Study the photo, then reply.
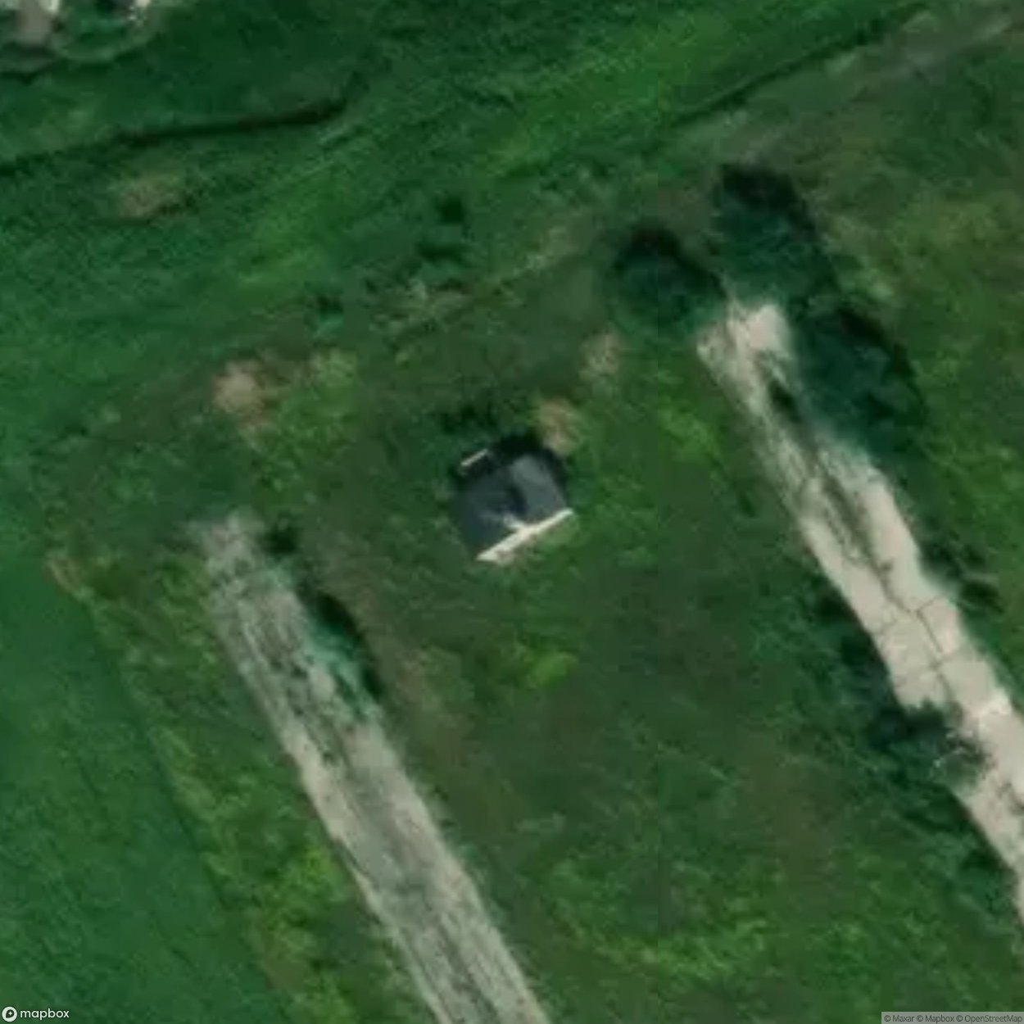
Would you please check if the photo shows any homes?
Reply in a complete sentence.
Yes, looking at the shot, I can spot a home.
